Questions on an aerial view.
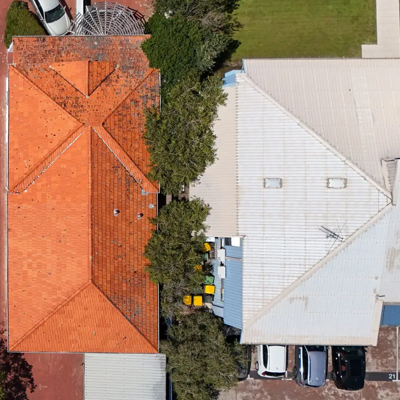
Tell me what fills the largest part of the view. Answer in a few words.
buildings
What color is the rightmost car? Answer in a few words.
black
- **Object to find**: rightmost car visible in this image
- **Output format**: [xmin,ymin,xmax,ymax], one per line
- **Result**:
[332,347,367,392]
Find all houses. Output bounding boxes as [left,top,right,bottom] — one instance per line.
[2,35,162,354]
[185,58,400,348]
